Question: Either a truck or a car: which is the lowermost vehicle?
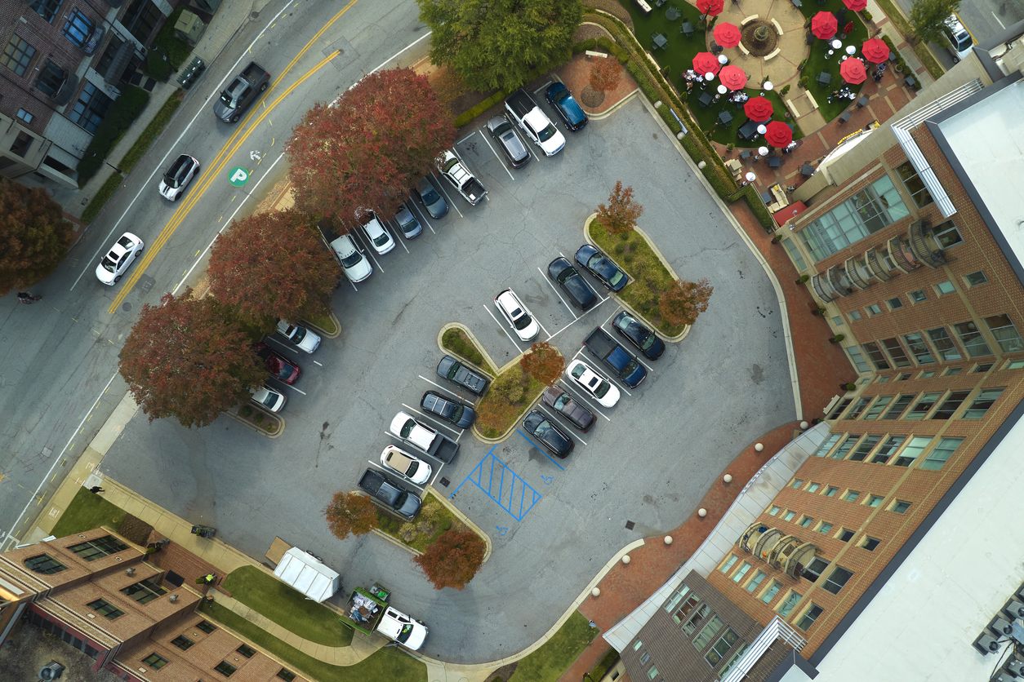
truck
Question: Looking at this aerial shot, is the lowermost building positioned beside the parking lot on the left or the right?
left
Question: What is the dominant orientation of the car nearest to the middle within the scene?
on a diagonal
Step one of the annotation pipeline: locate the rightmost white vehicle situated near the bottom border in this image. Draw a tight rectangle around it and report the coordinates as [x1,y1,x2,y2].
[340,586,428,651]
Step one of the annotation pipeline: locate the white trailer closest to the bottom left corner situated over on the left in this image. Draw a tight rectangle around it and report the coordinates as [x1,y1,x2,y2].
[266,537,345,606]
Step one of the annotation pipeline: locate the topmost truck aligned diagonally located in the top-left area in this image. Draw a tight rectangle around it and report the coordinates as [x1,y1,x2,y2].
[214,57,271,120]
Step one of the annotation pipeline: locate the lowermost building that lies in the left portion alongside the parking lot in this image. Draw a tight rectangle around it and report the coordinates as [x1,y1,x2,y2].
[0,526,311,682]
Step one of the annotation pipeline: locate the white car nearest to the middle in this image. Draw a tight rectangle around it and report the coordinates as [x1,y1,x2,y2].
[495,288,537,340]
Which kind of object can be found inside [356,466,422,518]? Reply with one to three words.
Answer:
truck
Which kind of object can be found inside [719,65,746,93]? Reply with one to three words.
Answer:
umbrella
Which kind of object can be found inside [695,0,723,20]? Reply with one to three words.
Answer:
umbrella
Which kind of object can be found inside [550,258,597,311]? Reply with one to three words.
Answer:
car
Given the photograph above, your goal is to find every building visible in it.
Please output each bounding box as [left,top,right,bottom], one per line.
[592,69,1024,682]
[0,0,178,200]
[0,526,311,682]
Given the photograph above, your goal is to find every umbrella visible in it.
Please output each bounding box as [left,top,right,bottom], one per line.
[839,0,867,13]
[695,0,723,20]
[719,65,746,93]
[763,121,792,149]
[744,96,772,123]
[861,39,889,65]
[809,13,837,42]
[714,23,742,51]
[837,58,866,86]
[692,52,720,79]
